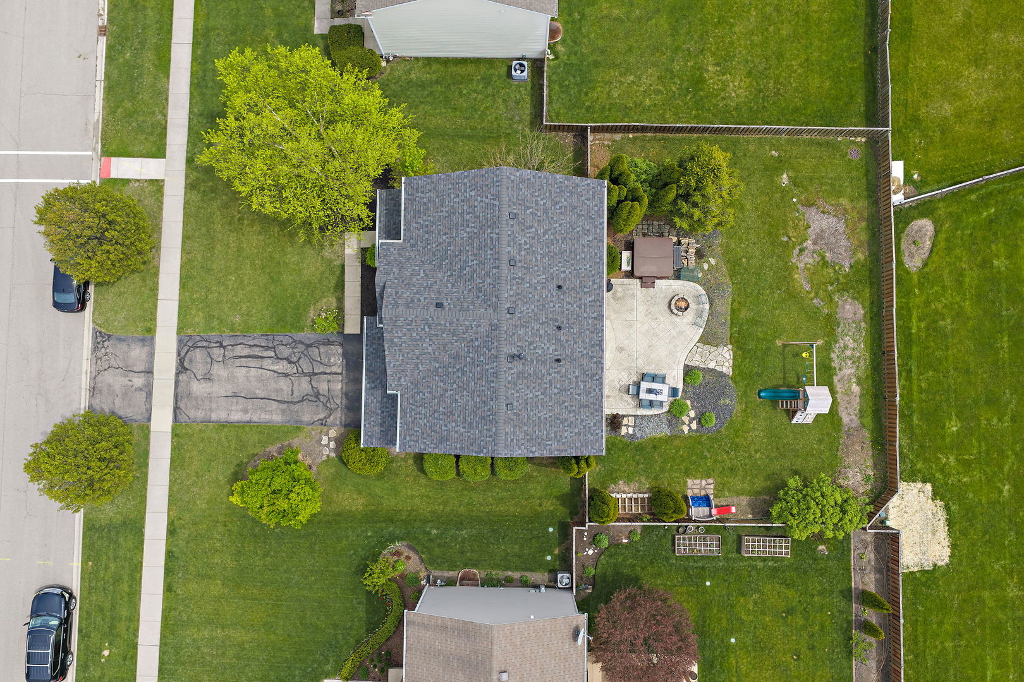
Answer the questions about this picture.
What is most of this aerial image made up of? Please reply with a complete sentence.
The largest share of the image is taken up by grass.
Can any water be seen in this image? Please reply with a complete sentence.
No, water can't be seen anywhere here.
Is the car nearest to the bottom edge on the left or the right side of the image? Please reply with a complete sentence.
The car nearest to the bottom edge sits on the left side.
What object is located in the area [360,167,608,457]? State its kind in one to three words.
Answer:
house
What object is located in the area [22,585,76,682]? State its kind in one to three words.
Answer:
car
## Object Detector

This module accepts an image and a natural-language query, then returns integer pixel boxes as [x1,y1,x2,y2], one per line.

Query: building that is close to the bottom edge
[401,579,590,682]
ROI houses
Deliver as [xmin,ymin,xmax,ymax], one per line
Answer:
[360,167,608,457]
[401,579,590,682]
[354,0,559,60]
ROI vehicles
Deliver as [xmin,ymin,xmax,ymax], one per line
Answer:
[22,585,76,682]
[49,237,88,313]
